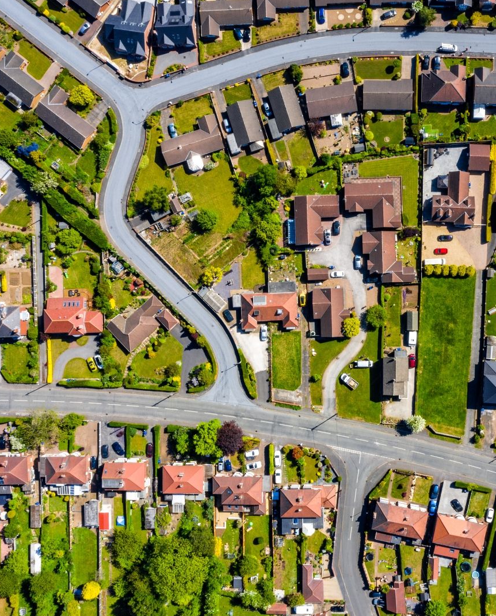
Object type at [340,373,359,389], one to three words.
vehicle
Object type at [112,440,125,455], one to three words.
vehicle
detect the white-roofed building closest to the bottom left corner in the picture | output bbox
[30,540,45,573]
